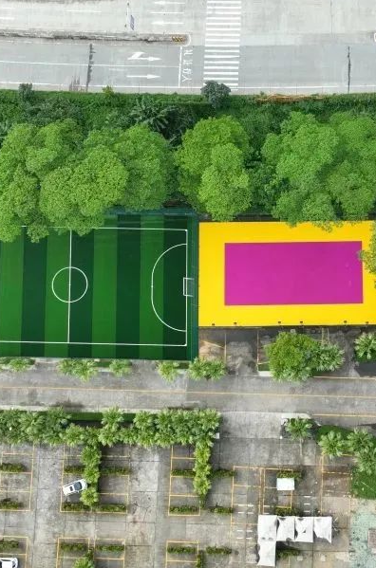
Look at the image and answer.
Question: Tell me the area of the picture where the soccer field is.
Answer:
left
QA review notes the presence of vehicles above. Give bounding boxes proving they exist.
[58,479,86,498]
[0,559,19,568]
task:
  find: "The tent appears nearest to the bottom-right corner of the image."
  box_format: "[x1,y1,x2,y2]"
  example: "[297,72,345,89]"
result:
[313,514,332,544]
